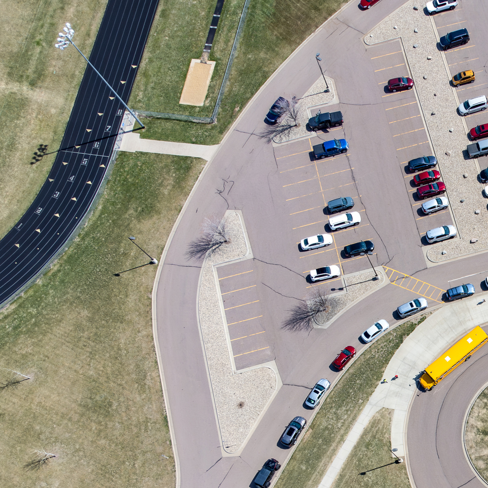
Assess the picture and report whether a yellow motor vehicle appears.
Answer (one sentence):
Yes, the picture does show a yellow motor vehicle.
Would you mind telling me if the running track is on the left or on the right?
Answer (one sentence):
The running track is on the left side of the image.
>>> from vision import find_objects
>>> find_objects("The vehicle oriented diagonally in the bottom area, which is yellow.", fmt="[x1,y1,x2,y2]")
[412,323,488,392]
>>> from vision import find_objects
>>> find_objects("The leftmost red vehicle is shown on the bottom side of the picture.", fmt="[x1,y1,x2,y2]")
[329,346,358,371]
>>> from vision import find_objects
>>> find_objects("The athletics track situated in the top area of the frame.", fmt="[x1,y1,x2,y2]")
[0,0,159,303]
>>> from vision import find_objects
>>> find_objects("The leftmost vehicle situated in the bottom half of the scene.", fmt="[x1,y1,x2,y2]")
[250,458,281,488]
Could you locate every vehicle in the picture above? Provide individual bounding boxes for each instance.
[299,233,334,251]
[419,197,451,215]
[479,165,488,183]
[325,196,356,214]
[425,0,460,16]
[264,94,291,125]
[307,109,345,131]
[415,181,448,199]
[451,70,477,87]
[358,320,391,344]
[411,170,442,187]
[412,323,488,392]
[327,211,362,231]
[396,297,430,319]
[308,264,341,281]
[439,27,471,49]
[444,283,477,302]
[465,139,488,159]
[425,224,458,243]
[458,96,488,116]
[329,346,358,371]
[407,154,438,172]
[311,138,350,159]
[302,378,331,410]
[386,75,414,92]
[468,124,488,142]
[279,415,307,449]
[250,458,281,488]
[343,241,375,257]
